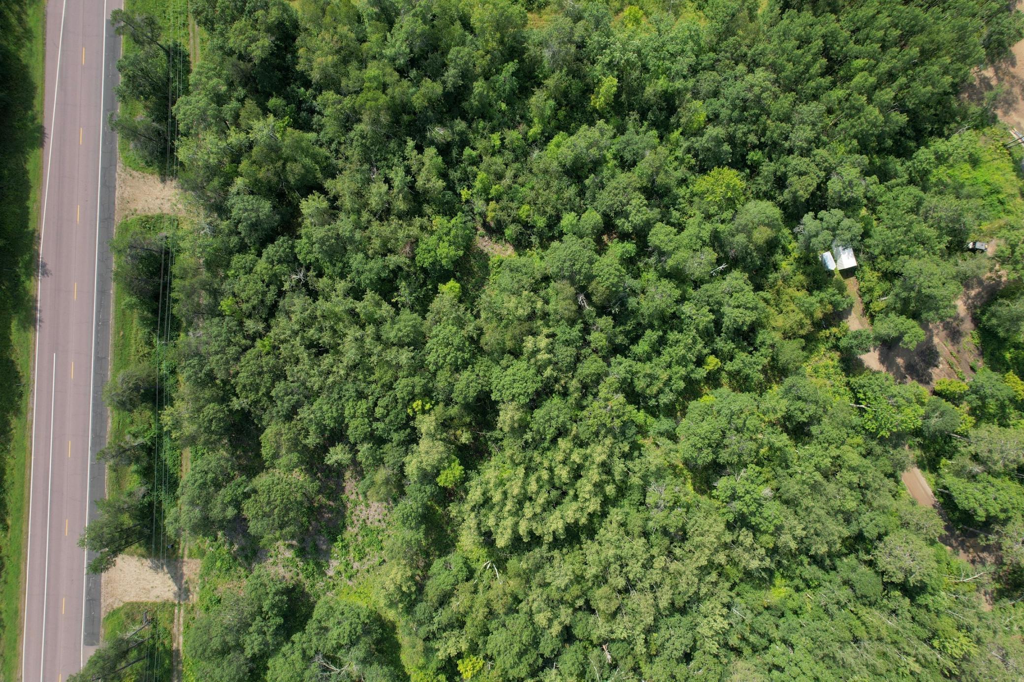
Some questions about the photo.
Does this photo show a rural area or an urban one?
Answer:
rural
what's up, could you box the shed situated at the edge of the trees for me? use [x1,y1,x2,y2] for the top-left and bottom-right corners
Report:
[827,240,858,273]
